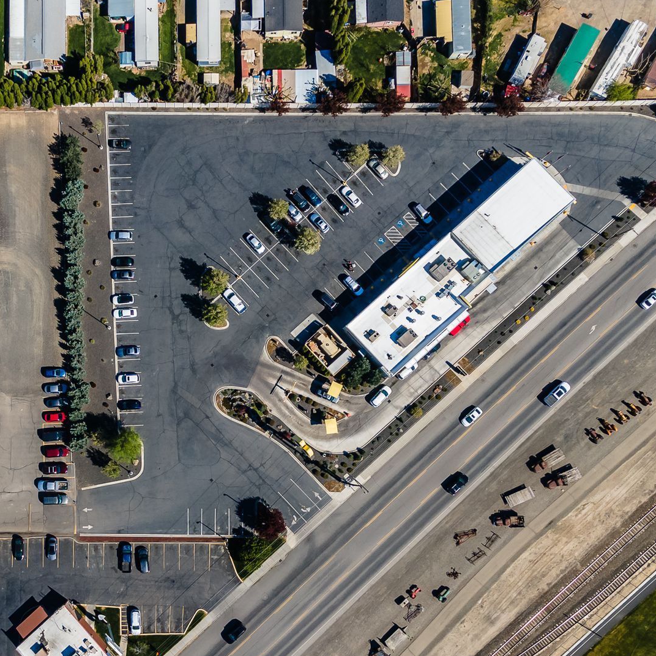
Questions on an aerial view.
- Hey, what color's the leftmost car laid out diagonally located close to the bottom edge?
black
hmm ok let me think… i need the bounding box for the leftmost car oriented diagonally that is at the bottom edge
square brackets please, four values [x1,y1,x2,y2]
[221,619,247,643]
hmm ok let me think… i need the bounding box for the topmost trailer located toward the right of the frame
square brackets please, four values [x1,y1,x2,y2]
[502,33,547,89]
